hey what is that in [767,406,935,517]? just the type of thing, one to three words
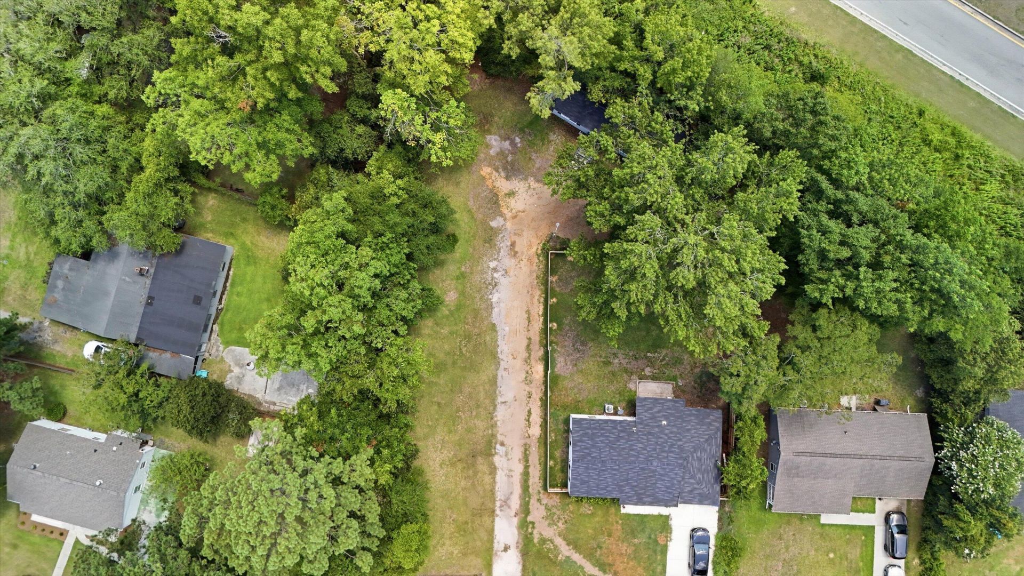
house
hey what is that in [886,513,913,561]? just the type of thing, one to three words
car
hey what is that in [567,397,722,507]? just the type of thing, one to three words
house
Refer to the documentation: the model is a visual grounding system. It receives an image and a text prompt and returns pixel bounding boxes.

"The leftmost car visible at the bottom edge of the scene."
[691,527,715,576]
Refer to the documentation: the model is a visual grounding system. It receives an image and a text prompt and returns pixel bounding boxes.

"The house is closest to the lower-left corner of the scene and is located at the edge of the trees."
[6,418,157,531]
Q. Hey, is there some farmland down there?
No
